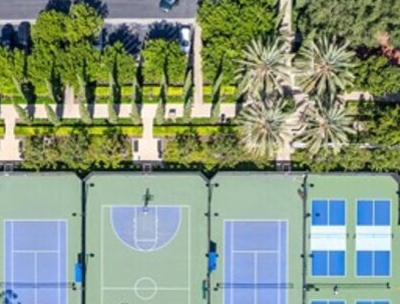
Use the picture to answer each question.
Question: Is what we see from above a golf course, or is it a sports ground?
sports ground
